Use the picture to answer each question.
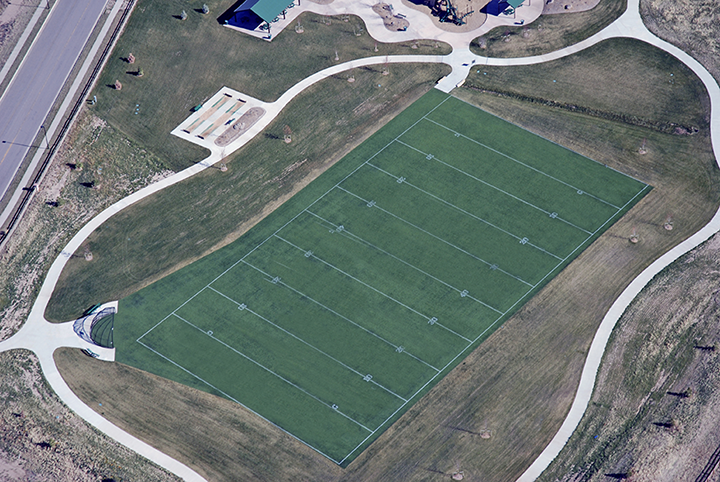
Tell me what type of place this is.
sports ground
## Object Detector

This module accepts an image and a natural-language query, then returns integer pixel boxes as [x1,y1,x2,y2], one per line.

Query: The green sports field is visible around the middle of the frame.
[91,87,654,470]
